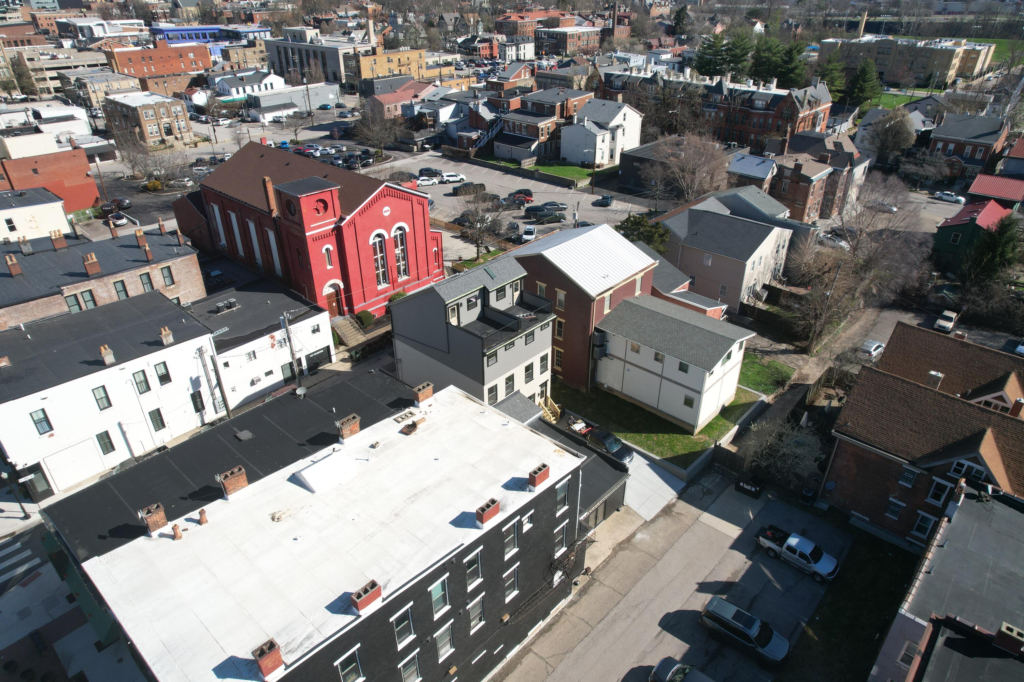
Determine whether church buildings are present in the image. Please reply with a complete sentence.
Yes, a church building appears in the view.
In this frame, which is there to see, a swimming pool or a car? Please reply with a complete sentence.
It is a car that can be seen here.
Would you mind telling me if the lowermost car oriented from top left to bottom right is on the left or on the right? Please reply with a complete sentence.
You can find the lowermost car oriented from top left to bottom right on the right side of the picture.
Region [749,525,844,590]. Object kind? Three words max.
truck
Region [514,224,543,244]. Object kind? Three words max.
car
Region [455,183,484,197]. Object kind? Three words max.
vehicle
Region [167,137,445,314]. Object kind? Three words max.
church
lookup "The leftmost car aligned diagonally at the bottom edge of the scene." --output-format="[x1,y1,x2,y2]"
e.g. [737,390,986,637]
[699,593,791,668]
